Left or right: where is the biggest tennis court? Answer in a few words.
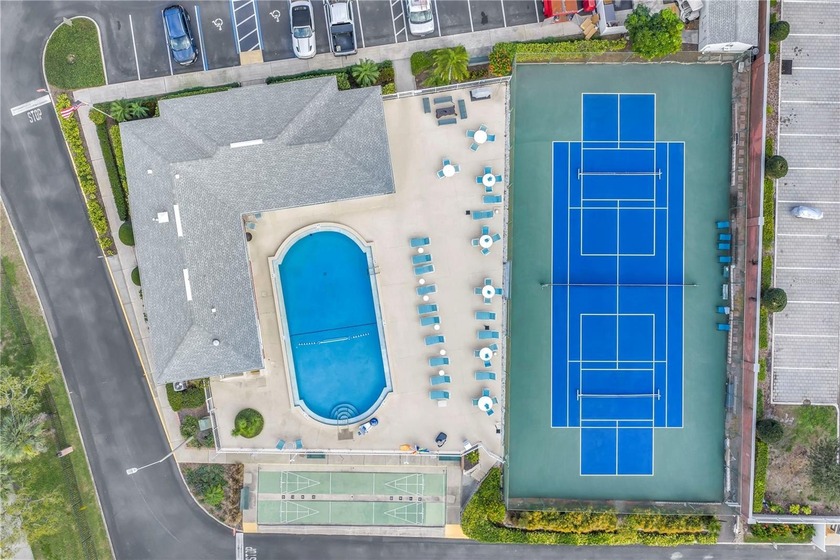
right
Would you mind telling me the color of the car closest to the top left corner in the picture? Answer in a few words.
blue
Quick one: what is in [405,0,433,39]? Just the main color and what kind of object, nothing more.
white car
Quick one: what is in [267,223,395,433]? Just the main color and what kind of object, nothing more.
blue swimming pool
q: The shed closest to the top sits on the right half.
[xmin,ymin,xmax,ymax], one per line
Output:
[700,0,760,57]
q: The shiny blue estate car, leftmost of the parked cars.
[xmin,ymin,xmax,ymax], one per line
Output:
[165,4,199,67]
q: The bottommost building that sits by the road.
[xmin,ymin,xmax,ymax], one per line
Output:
[119,75,396,384]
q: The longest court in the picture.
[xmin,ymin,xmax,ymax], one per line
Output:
[503,60,736,501]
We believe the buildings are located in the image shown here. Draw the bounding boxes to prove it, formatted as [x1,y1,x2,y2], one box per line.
[700,0,760,57]
[119,75,396,384]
